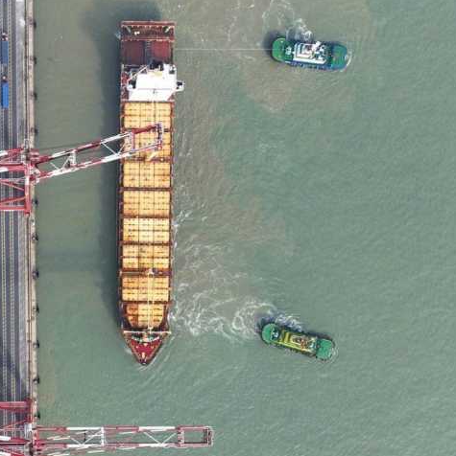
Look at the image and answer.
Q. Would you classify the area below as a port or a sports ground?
port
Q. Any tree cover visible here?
No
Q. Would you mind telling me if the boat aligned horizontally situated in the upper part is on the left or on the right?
right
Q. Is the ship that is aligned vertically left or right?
left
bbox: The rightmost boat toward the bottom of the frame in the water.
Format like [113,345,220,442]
[259,321,335,361]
